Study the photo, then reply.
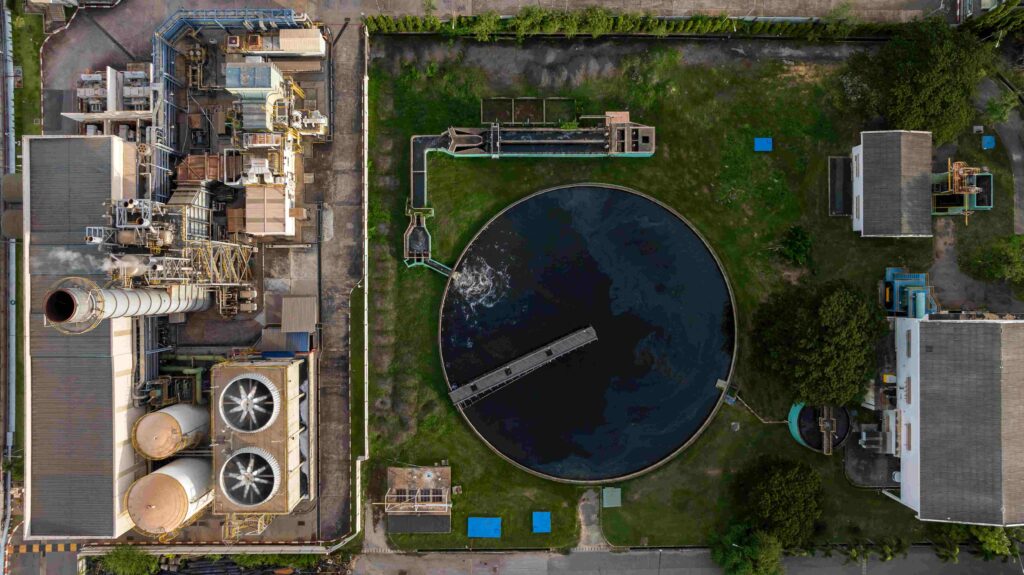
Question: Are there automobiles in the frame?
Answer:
No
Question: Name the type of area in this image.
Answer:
industrial area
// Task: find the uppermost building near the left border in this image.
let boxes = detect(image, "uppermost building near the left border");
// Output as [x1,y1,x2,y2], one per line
[24,0,89,36]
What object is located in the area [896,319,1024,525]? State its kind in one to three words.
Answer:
building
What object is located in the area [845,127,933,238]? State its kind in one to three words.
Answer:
building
